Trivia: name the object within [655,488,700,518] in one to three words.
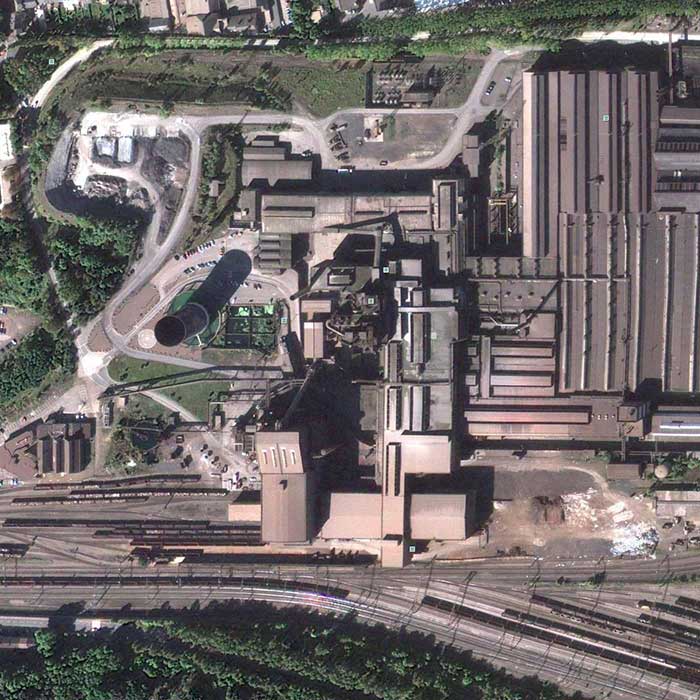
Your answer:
shed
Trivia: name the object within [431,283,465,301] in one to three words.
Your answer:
house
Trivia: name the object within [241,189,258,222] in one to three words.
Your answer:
building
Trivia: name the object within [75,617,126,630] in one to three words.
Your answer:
shed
